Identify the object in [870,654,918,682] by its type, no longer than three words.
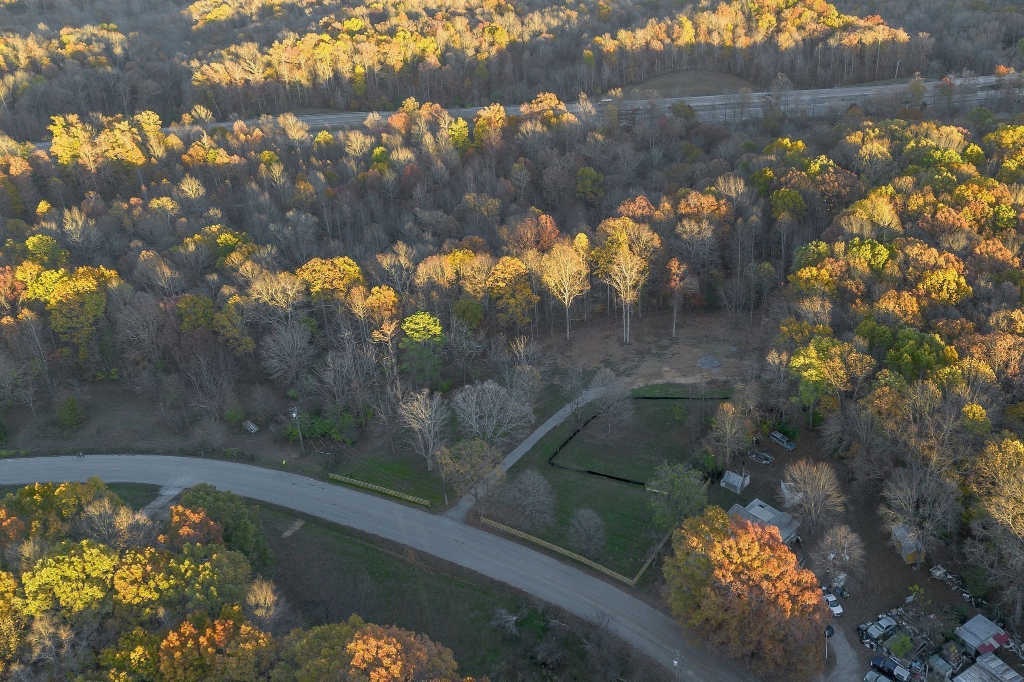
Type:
truck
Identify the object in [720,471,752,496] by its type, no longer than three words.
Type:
shed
